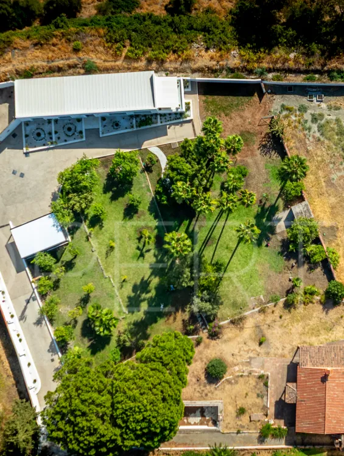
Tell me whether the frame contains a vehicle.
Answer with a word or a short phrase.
No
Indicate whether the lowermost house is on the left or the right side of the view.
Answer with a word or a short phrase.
right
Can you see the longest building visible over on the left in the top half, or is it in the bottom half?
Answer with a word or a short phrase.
top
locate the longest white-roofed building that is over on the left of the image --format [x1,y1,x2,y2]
[14,71,191,125]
